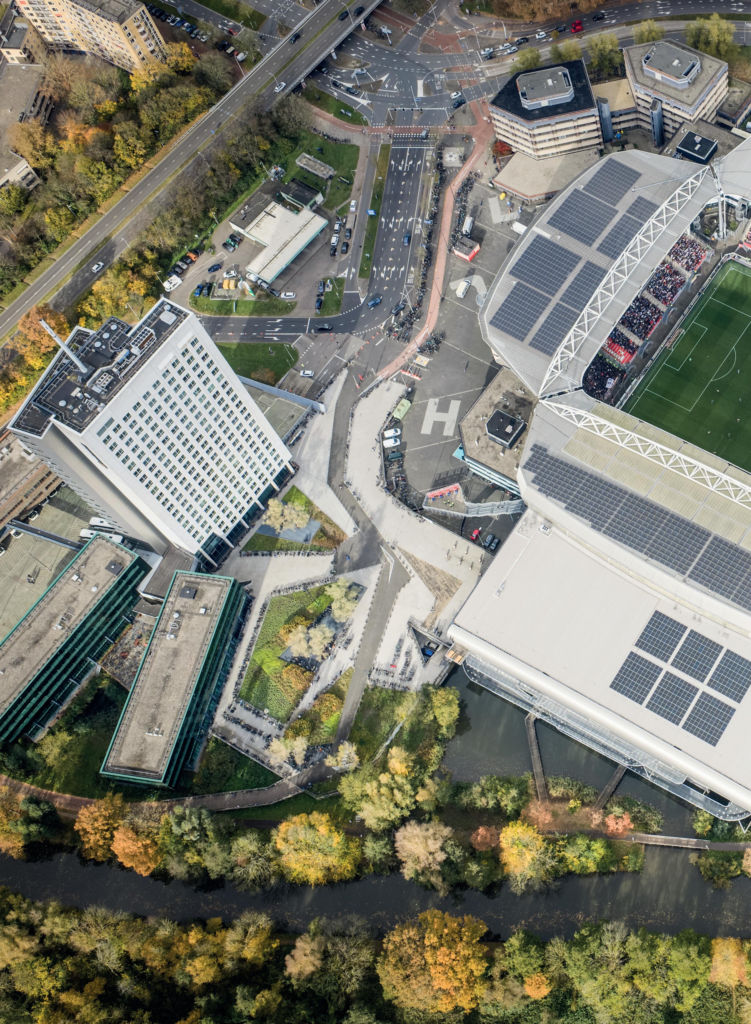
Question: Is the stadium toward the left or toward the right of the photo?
right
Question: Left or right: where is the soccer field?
right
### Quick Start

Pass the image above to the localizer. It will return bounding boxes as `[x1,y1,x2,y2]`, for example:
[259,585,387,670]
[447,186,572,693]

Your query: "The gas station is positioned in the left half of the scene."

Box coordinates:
[228,192,330,284]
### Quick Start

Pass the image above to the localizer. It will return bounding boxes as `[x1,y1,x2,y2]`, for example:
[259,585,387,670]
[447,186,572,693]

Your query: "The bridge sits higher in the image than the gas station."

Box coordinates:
[218,0,388,122]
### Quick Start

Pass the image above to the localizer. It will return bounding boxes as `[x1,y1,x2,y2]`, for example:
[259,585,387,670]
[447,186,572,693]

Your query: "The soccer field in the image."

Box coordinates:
[620,261,751,477]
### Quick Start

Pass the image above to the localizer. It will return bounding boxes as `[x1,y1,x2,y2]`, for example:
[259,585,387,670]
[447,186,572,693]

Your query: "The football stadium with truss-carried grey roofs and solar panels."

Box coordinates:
[480,136,751,636]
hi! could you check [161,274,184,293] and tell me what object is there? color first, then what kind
white camper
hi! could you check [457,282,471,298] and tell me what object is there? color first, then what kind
white vehicle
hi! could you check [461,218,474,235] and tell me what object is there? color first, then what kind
white vehicle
